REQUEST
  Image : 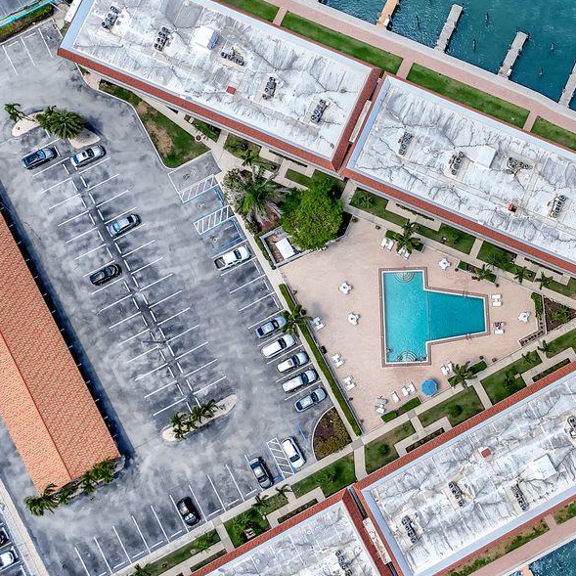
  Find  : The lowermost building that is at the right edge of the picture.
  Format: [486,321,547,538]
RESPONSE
[351,362,576,576]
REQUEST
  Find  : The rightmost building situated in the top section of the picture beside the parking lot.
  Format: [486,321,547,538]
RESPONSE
[339,69,576,278]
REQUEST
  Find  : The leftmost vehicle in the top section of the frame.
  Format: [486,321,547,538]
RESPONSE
[19,145,60,171]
